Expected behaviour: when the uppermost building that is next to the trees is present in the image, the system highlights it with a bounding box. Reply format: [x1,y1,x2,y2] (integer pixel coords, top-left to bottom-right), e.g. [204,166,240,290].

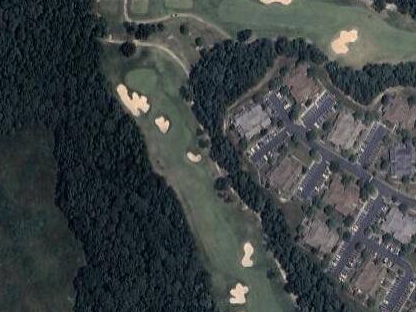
[278,65,324,106]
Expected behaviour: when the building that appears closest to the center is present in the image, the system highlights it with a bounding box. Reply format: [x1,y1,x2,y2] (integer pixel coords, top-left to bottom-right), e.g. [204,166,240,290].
[233,104,271,140]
